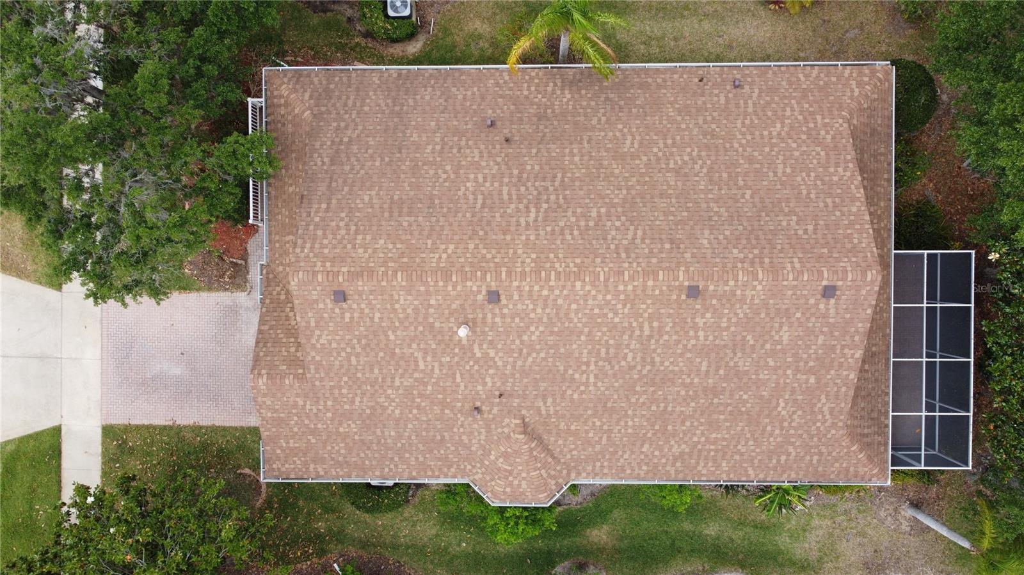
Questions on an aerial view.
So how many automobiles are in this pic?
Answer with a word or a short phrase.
0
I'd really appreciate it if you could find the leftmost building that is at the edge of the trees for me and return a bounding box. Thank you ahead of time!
[252,62,896,508]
